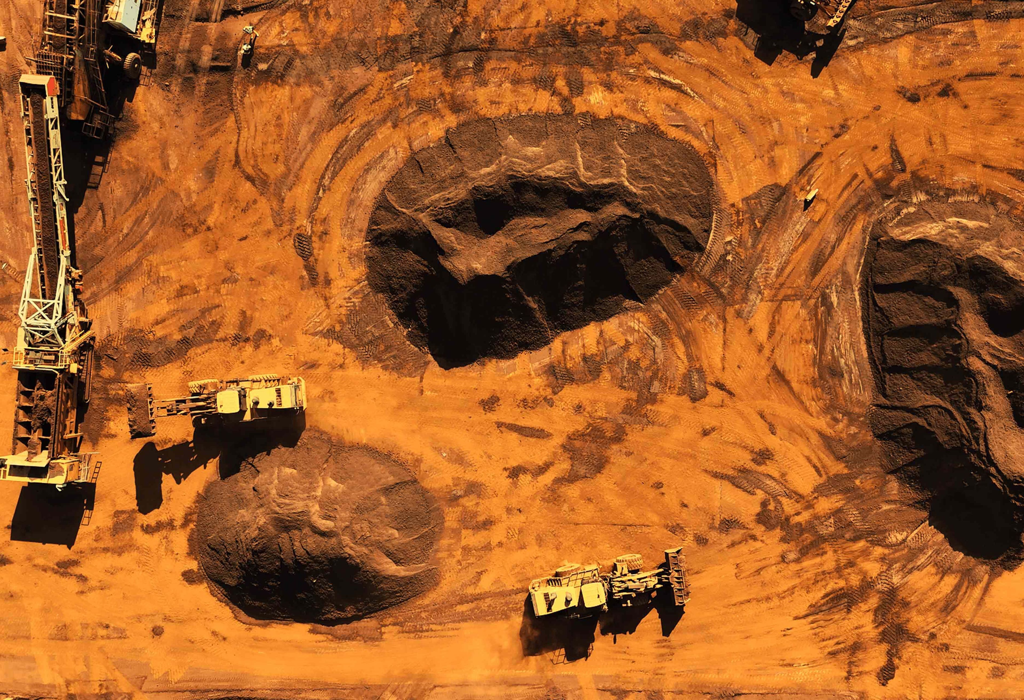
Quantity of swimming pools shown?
0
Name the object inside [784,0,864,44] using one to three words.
work vehicle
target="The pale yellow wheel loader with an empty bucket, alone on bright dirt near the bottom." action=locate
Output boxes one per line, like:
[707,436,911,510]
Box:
[523,540,693,617]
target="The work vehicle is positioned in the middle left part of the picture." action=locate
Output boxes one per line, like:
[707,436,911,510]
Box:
[117,372,310,438]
